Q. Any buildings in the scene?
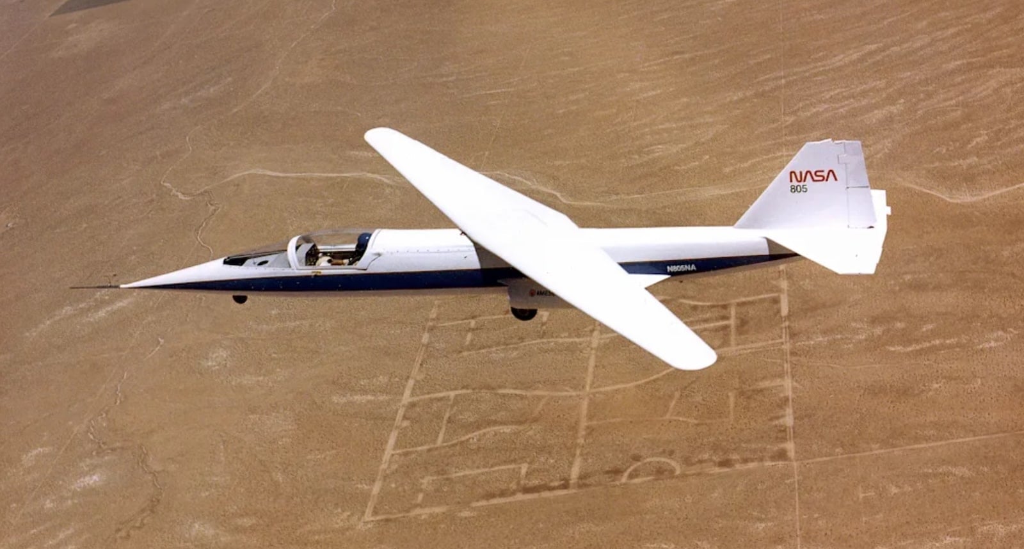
No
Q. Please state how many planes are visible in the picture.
1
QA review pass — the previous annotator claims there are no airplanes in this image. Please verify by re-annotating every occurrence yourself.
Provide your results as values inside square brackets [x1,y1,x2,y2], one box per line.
[70,127,890,370]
